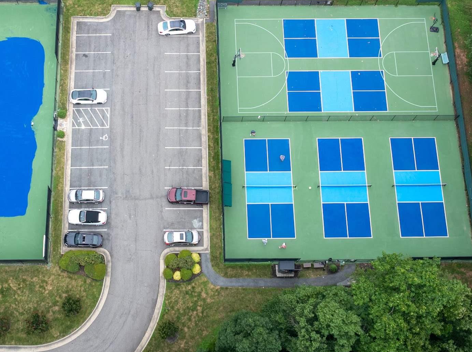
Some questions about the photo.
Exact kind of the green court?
basketball court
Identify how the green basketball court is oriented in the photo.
horizontally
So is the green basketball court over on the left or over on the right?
right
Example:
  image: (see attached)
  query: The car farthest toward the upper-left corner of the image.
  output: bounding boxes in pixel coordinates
[70,89,106,106]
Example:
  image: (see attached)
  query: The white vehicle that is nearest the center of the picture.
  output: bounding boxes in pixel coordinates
[163,230,201,247]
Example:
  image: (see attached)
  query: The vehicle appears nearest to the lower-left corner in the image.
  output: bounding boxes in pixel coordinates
[63,230,103,248]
